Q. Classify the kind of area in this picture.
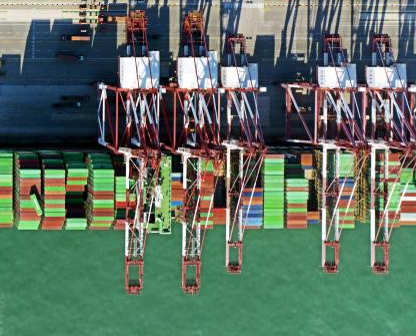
port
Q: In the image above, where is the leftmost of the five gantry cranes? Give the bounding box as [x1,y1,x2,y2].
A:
[89,9,168,298]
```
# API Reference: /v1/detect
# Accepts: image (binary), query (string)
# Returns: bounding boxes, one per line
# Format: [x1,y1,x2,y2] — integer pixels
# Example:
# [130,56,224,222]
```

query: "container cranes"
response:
[318,28,416,276]
[187,28,269,276]
[89,9,168,298]
[269,28,374,276]
[151,9,228,298]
